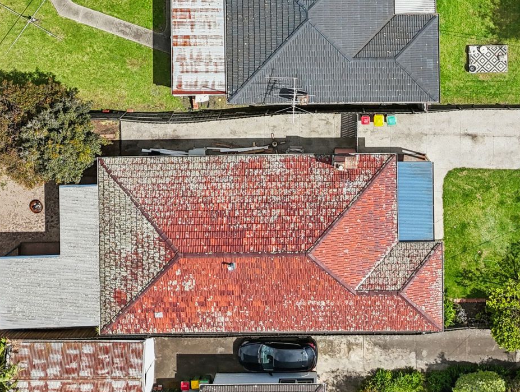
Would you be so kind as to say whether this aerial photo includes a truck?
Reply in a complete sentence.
No, the scene contains no truck.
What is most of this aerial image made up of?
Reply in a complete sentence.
The scene is dominated by buildings.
